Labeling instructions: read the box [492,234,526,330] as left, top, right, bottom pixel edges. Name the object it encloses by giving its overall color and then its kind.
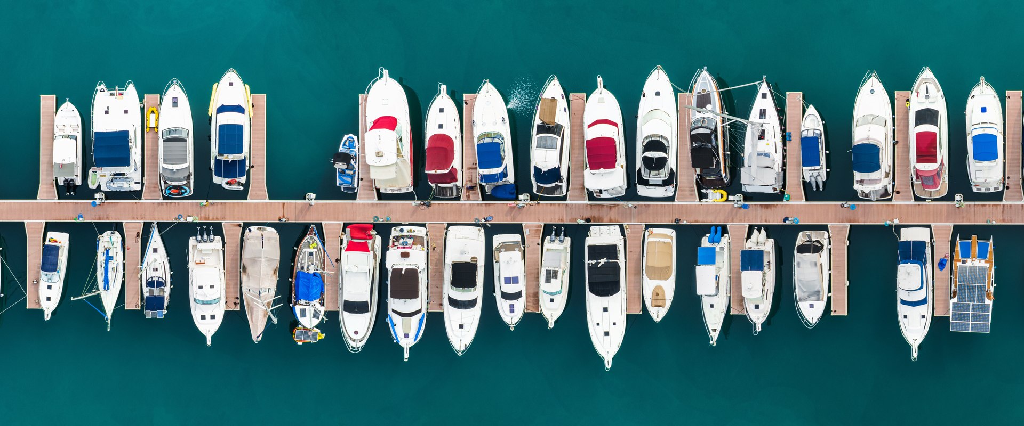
white boat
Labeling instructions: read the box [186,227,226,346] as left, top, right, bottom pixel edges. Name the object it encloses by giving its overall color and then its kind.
white boat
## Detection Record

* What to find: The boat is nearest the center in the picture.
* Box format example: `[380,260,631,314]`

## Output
[492,184,516,199]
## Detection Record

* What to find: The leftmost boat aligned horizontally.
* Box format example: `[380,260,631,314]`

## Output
[105,177,136,191]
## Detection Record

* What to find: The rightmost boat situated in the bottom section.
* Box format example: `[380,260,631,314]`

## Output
[950,233,996,333]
